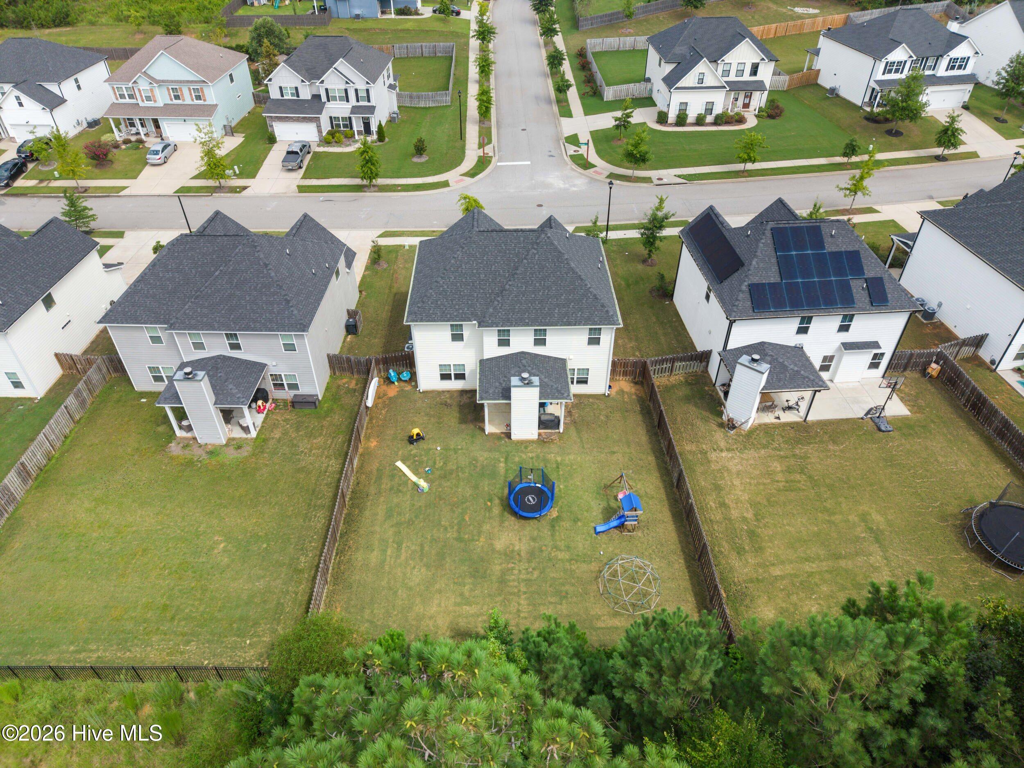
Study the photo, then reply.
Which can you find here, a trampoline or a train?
trampoline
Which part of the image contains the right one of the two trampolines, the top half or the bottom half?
bottom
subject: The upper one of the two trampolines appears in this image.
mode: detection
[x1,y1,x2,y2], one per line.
[508,465,556,524]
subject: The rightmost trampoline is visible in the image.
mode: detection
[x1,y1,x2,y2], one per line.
[945,481,1024,573]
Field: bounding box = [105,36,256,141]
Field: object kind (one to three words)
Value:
house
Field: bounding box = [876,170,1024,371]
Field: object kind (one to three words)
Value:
house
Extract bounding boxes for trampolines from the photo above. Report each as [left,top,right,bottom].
[508,465,556,524]
[945,481,1024,573]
